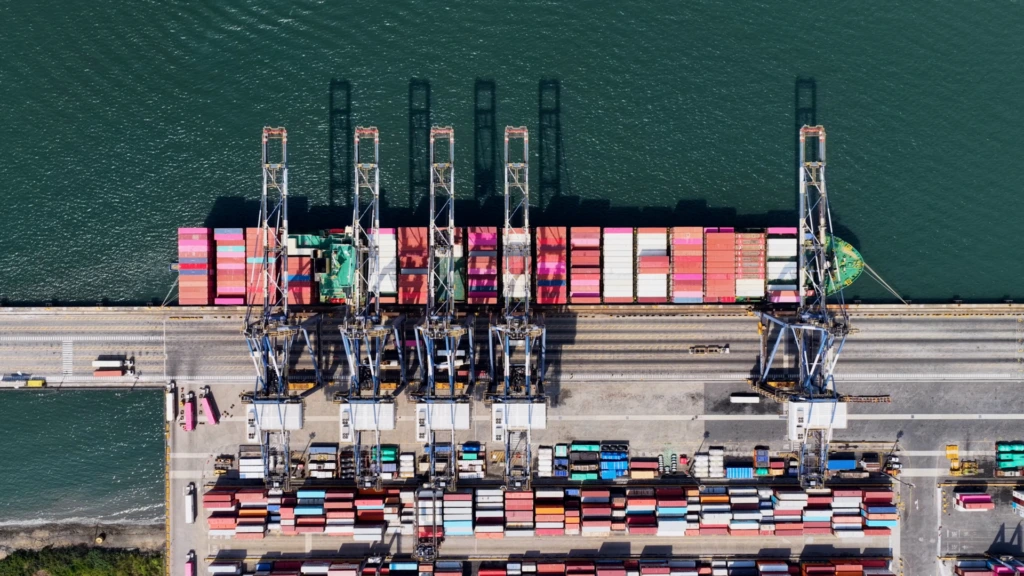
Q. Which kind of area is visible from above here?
port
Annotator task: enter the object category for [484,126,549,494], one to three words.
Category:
container crane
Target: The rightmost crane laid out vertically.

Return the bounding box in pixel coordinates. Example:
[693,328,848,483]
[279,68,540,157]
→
[741,125,854,493]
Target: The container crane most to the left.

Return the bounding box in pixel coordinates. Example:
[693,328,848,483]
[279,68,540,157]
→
[239,126,339,494]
